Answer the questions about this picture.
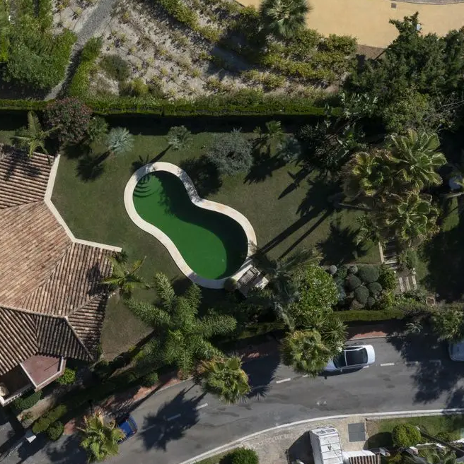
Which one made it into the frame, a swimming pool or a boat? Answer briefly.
swimming pool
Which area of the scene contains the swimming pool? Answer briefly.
center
